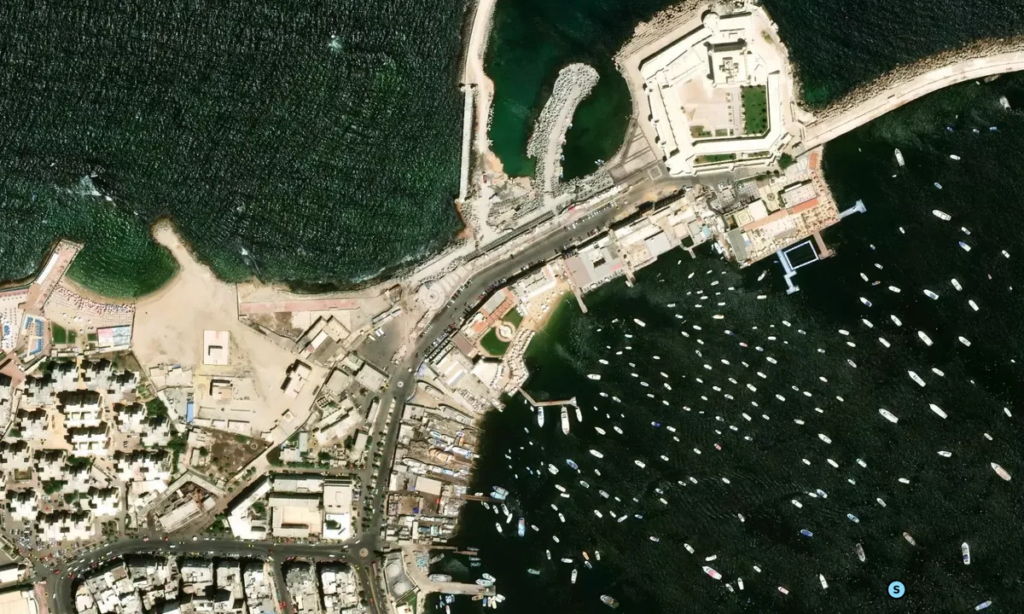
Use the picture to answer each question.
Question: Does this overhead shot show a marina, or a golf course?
marina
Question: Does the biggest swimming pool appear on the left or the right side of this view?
right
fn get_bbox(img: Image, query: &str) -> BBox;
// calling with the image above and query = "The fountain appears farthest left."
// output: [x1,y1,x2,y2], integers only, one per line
[495,321,516,342]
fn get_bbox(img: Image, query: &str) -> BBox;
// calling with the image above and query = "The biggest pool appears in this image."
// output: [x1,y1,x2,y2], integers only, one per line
[784,240,819,270]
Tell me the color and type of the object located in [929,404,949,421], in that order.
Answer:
white boat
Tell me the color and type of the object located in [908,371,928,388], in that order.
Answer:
white boat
